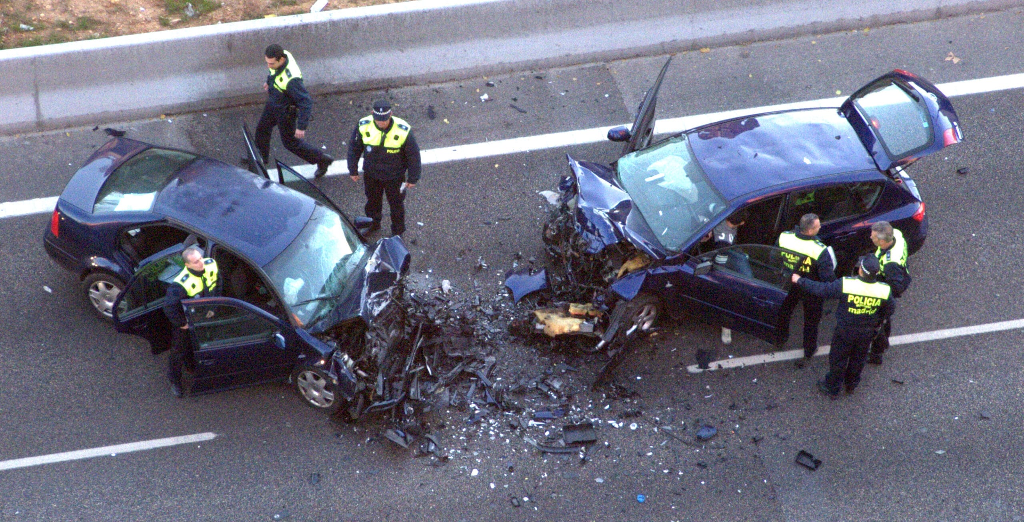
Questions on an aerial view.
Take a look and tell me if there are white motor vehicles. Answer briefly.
No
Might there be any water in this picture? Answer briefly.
No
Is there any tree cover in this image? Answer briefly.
No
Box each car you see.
[515,66,958,383]
[47,128,445,415]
